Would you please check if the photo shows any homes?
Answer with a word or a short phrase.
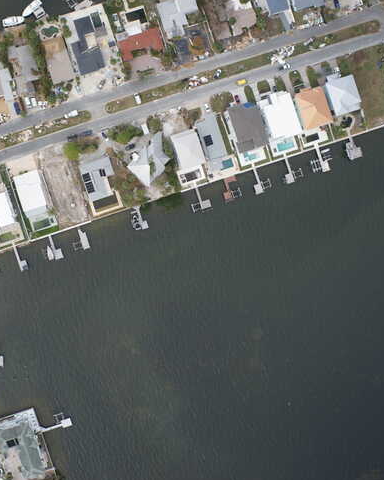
Yes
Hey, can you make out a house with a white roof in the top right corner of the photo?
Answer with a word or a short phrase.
Yes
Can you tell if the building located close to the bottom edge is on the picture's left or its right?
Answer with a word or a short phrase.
left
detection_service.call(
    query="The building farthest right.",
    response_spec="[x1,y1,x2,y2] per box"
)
[325,73,361,117]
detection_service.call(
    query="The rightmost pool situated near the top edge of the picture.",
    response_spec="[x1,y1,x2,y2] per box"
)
[125,7,147,25]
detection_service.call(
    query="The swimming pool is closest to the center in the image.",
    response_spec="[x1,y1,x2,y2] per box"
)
[182,167,203,183]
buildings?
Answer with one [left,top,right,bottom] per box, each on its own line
[257,91,303,141]
[0,424,45,478]
[72,16,105,75]
[116,20,164,62]
[197,115,226,159]
[0,192,17,229]
[158,0,198,39]
[9,46,39,82]
[293,88,333,130]
[80,158,114,201]
[14,171,47,213]
[325,73,361,117]
[216,0,256,39]
[0,69,14,102]
[171,129,205,171]
[227,103,269,153]
[290,0,325,12]
[264,0,289,17]
[43,38,71,84]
